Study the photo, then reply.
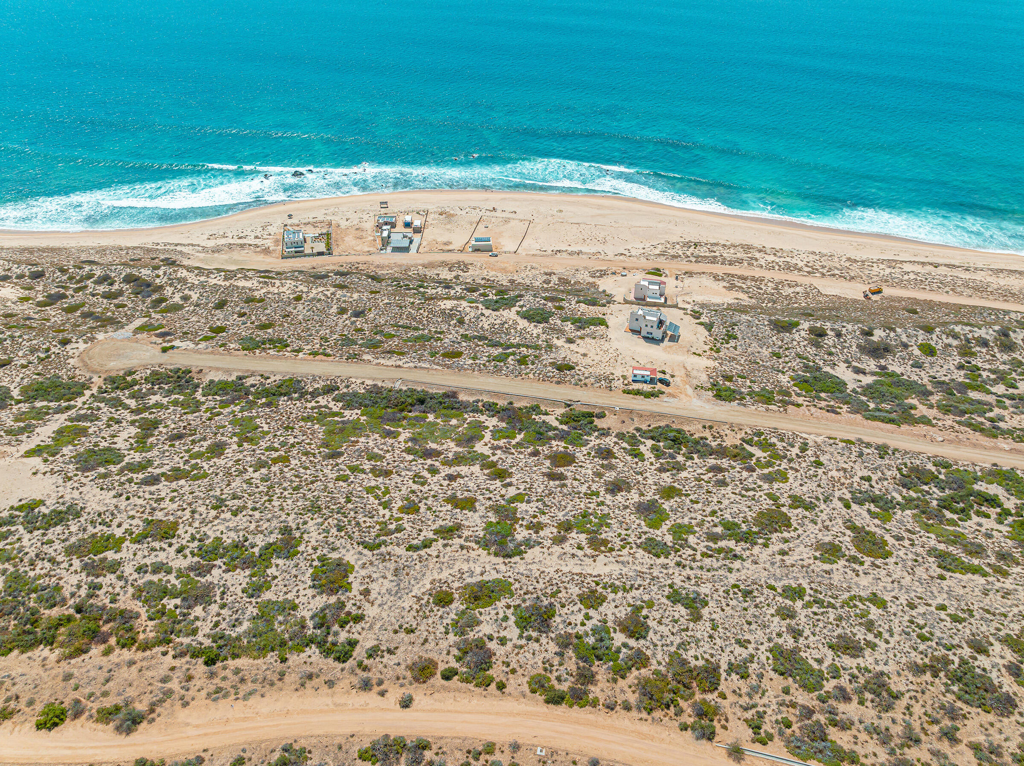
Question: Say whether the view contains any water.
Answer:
Yes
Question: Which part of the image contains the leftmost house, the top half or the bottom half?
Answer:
top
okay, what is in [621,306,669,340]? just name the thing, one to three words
house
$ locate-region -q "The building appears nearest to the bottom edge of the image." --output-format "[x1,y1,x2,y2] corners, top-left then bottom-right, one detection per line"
[632,366,659,384]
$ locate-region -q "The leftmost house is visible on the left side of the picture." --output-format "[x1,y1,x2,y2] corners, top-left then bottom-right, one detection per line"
[285,230,309,254]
